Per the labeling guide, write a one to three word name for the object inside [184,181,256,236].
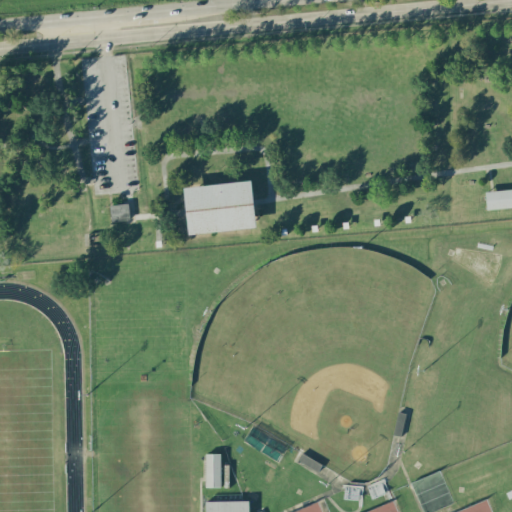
building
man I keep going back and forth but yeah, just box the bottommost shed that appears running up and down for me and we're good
[206,454,222,488]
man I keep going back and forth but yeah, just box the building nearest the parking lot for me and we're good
[111,204,130,223]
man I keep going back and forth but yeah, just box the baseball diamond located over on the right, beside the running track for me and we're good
[192,248,435,482]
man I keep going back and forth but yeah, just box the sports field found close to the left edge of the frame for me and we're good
[0,348,56,512]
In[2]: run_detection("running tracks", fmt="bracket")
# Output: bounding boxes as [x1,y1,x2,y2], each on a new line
[0,281,88,512]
